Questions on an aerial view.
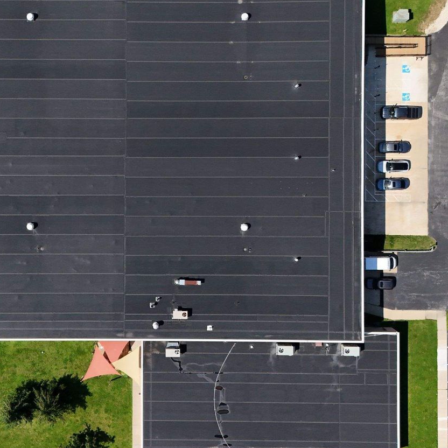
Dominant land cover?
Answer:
buildings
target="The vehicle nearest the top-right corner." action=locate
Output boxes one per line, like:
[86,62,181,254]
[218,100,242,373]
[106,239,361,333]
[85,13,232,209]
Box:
[379,103,424,120]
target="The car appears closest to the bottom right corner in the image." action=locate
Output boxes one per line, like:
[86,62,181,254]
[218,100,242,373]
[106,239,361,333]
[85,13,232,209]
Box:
[364,275,397,291]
